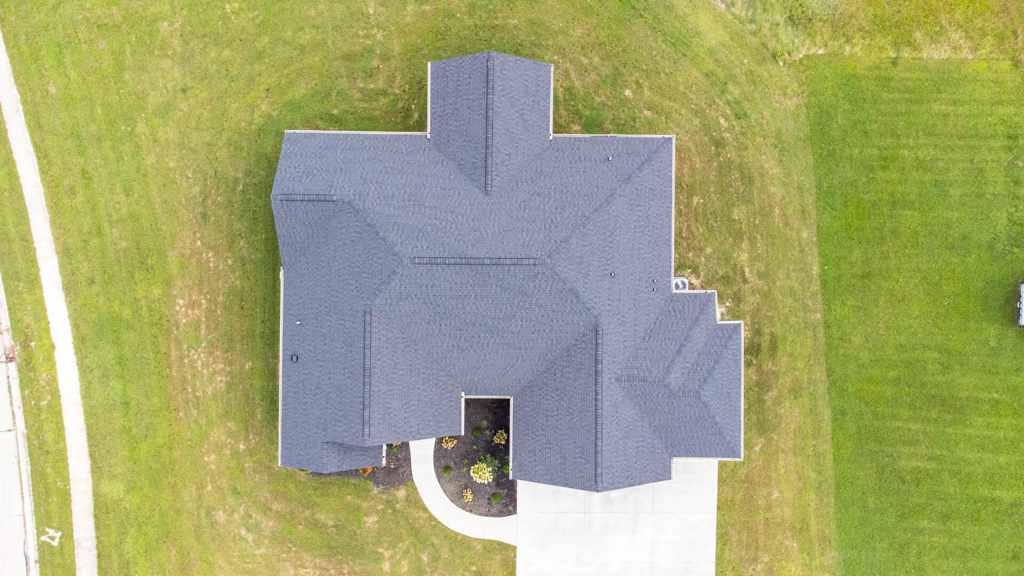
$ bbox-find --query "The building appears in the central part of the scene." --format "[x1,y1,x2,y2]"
[270,51,745,493]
